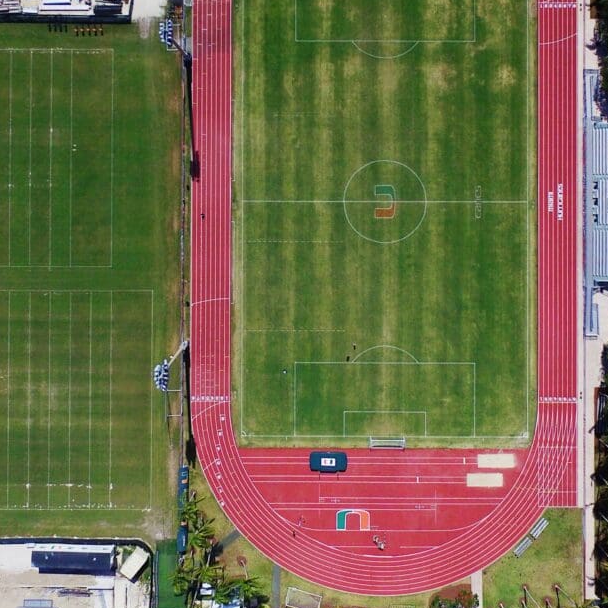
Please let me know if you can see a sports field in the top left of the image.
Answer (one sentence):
Yes, I can see a sports field in the top left of the image.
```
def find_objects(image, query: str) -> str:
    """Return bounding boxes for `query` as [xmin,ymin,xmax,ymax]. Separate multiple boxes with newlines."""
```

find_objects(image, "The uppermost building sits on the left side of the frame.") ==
[31,542,117,569]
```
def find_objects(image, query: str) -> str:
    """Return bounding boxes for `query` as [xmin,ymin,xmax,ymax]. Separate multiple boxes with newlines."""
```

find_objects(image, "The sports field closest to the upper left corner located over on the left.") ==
[0,22,182,278]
